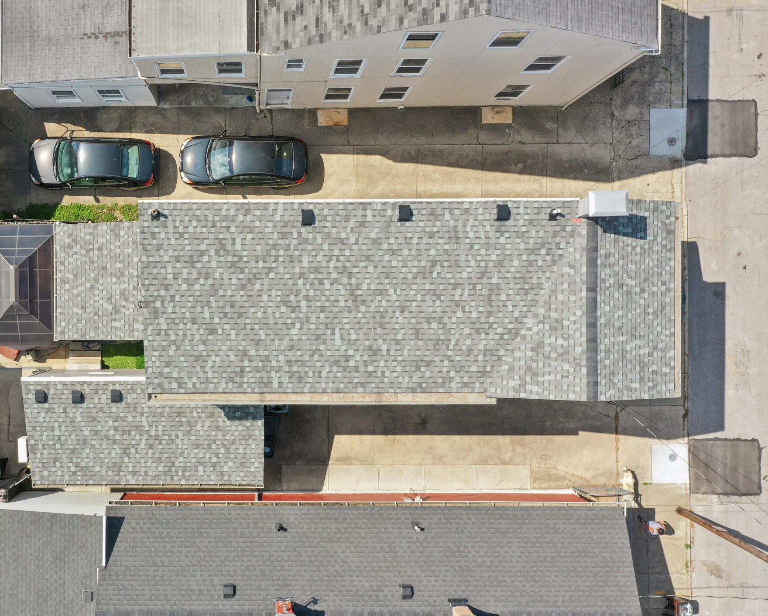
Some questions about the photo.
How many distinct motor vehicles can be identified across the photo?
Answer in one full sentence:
The picture shows 2 motor vehicles.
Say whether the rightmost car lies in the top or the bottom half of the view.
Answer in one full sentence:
The top half of the photo is where the rightmost car is.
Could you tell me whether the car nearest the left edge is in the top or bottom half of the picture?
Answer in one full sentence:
It is in the top half that the car nearest the left edge appears.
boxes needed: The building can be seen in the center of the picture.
[21,191,682,487]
